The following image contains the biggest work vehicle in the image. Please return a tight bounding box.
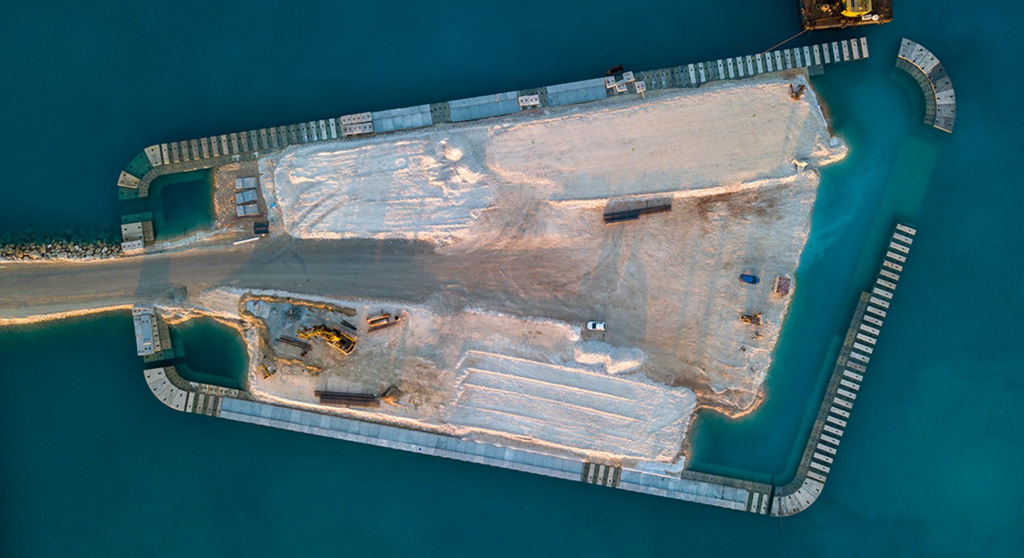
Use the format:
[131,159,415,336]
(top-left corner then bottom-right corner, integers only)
[293,324,356,357]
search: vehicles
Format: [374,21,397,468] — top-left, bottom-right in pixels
[587,321,606,330]
[741,315,762,325]
[293,324,356,357]
[741,274,761,284]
